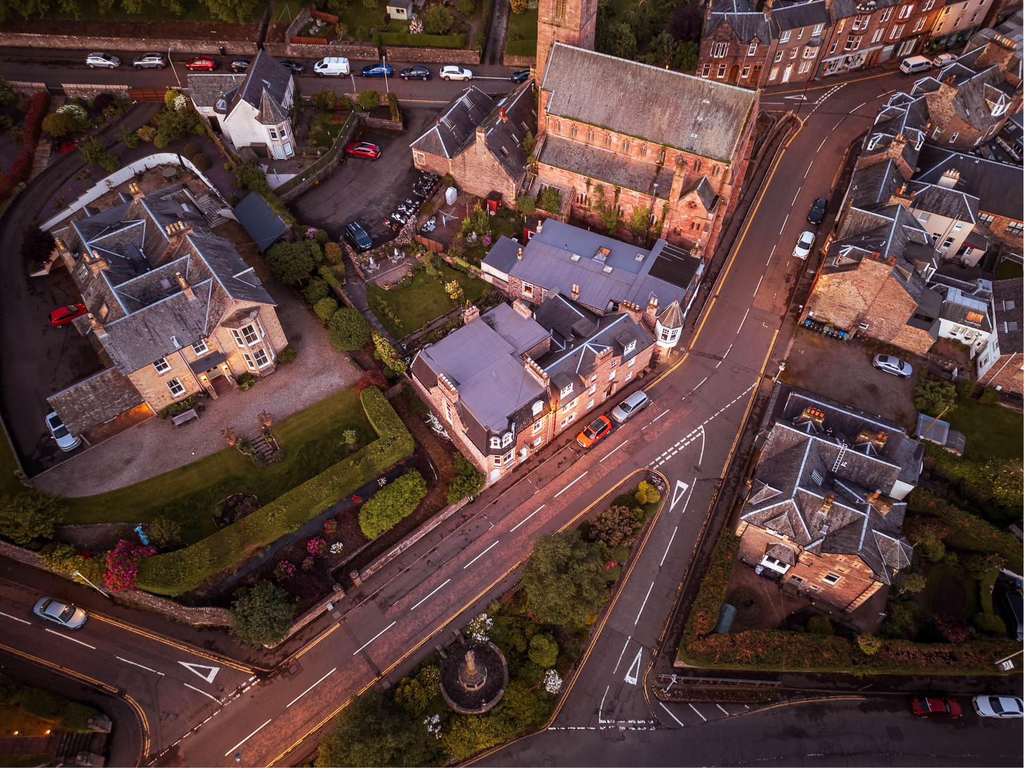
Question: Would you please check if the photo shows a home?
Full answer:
Yes, the frame does contain a home.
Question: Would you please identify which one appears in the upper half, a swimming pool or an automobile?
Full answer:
Looking in the upper half, you will find an automobile.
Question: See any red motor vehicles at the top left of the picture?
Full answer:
Yes, looking at the top left of the picture, one can make out a red motor vehicle.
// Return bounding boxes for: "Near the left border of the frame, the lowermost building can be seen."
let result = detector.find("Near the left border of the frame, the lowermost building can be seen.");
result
[46,172,287,447]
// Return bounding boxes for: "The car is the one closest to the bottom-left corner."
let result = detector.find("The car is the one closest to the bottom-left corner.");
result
[30,593,91,632]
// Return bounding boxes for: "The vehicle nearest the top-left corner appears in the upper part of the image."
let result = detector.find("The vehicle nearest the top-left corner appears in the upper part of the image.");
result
[84,51,122,70]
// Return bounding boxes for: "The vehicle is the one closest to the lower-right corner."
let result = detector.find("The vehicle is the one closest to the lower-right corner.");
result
[968,691,1024,721]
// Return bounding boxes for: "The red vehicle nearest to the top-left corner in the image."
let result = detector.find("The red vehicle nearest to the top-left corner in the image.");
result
[185,55,219,72]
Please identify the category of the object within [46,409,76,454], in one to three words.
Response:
car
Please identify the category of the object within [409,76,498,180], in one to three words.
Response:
building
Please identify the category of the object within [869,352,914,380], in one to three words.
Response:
car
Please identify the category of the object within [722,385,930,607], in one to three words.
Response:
house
